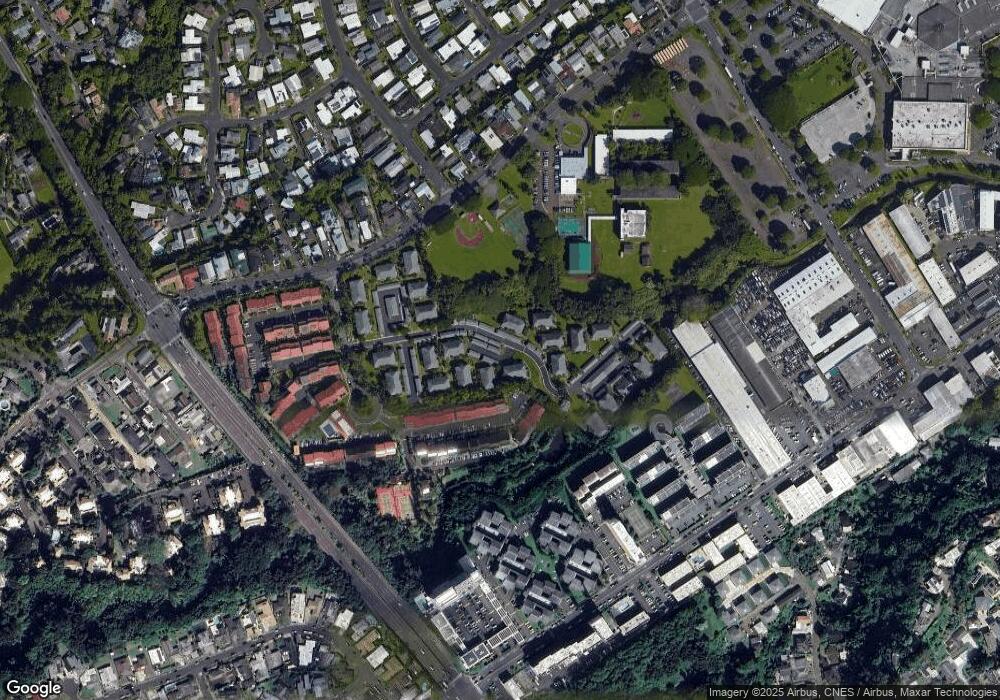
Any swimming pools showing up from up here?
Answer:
No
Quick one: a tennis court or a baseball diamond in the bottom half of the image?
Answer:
tennis court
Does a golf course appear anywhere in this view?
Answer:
No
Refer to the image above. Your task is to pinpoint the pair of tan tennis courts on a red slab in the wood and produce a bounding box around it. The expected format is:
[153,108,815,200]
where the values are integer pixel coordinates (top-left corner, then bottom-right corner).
[376,484,413,518]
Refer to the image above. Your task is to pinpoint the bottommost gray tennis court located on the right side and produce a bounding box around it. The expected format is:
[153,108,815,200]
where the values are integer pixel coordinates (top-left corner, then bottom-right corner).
[621,505,652,539]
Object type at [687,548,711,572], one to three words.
building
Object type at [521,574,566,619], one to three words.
building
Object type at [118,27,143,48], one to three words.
house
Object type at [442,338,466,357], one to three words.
house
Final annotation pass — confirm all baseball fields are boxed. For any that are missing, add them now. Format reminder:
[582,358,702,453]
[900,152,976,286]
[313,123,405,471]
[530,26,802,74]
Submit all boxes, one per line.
[428,208,520,280]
